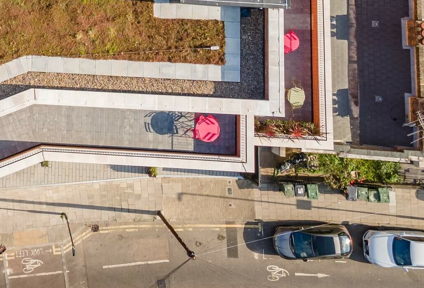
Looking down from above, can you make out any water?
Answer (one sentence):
No, there is no water in the image.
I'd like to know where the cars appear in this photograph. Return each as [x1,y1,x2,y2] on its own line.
[272,221,356,266]
[361,225,424,272]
